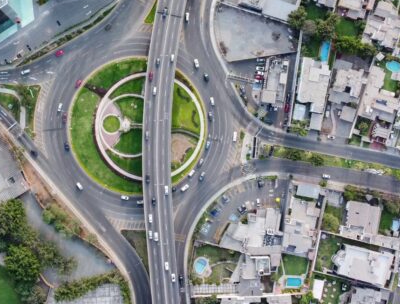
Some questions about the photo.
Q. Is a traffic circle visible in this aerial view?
Yes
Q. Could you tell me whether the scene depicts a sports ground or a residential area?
residential area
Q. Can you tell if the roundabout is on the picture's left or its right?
left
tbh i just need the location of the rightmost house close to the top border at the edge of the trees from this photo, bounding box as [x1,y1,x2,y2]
[359,0,400,48]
